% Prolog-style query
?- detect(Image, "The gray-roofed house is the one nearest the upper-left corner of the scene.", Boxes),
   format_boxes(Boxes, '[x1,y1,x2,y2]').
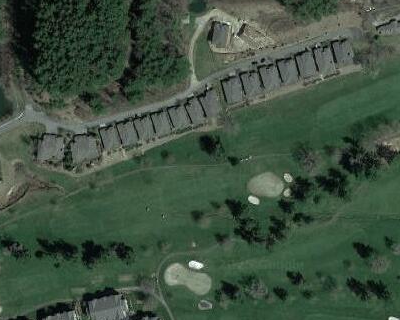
[40,136,65,162]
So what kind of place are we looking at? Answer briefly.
golf course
